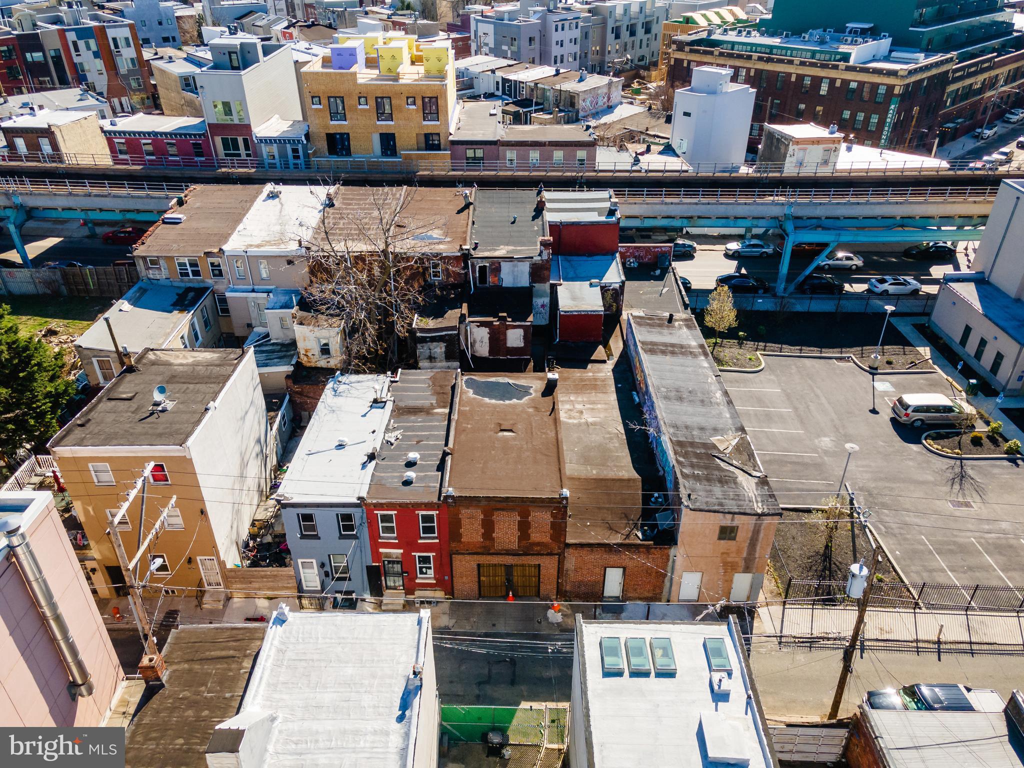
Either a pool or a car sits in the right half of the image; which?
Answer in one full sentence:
Visible in the right half of the image is a car.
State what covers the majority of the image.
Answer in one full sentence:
For the most part, this view shows buildings.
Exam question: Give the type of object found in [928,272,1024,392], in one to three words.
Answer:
building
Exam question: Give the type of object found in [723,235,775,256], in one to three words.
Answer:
car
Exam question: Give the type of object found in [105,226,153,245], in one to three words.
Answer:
car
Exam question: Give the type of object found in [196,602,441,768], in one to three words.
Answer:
house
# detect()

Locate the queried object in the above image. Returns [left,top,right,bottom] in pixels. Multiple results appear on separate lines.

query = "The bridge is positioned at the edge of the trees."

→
[0,160,1024,228]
